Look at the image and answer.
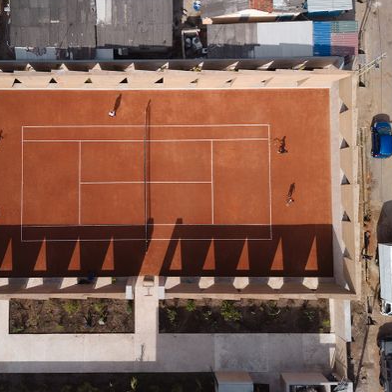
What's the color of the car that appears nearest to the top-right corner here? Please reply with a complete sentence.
The car that appears nearest to the top-right corner is blue.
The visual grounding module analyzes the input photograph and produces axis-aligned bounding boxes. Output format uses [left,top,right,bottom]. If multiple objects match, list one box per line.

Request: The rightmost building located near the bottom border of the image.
[280,373,354,392]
